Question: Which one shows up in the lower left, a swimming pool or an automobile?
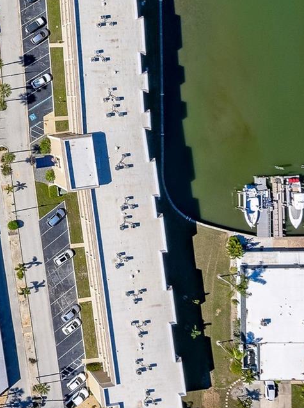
automobile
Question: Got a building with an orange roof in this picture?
No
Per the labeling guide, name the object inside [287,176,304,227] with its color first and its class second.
white boat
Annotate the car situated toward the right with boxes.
[263,380,276,402]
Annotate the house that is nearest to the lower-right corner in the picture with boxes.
[233,249,304,380]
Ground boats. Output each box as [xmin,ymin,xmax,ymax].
[287,176,304,227]
[245,185,261,228]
